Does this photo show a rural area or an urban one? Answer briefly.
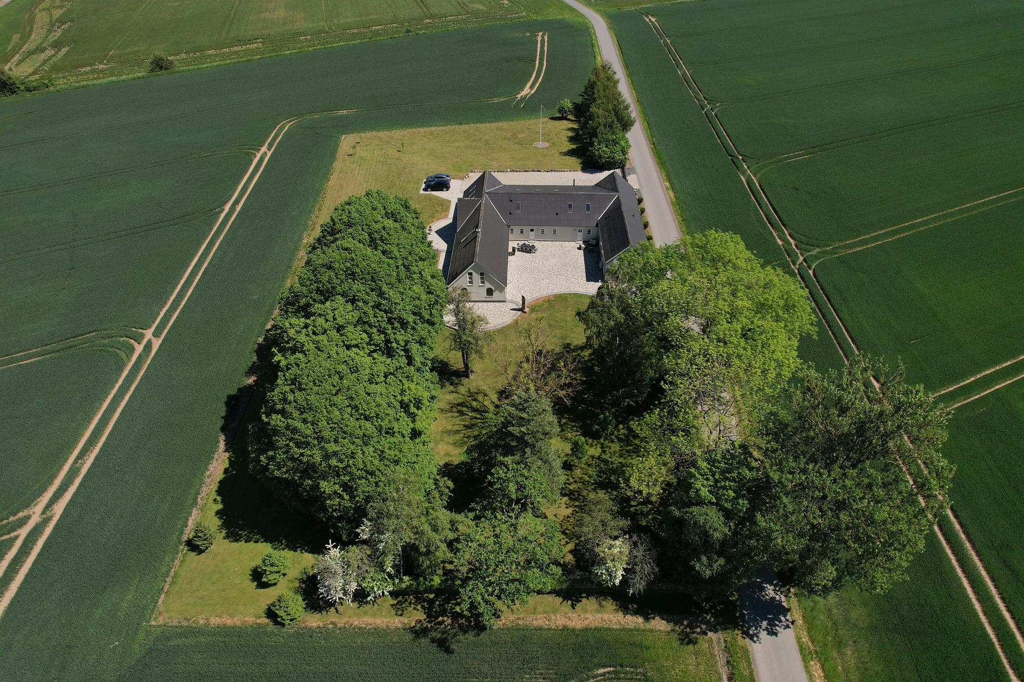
rural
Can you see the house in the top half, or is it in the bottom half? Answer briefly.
top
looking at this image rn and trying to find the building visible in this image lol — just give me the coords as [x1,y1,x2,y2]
[446,170,651,301]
